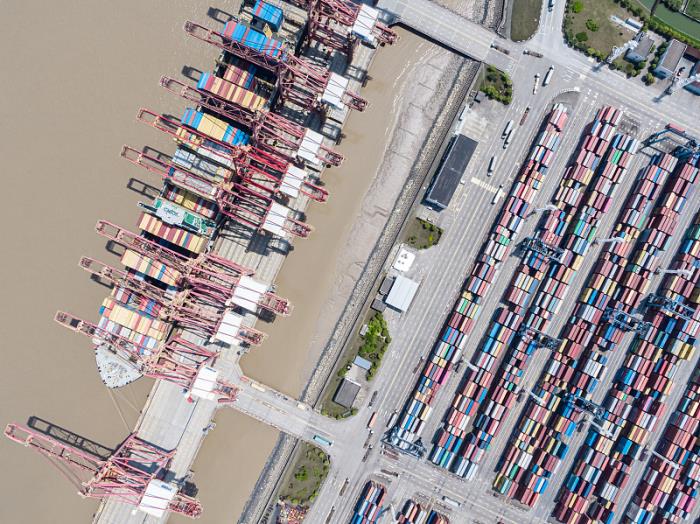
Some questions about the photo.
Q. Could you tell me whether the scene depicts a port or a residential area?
port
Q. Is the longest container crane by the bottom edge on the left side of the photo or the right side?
left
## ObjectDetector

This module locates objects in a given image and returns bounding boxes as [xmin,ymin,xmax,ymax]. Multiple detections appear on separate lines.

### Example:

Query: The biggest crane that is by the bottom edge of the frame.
[5,418,197,518]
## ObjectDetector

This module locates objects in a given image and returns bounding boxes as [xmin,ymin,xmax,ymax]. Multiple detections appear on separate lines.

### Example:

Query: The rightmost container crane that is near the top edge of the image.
[282,0,404,65]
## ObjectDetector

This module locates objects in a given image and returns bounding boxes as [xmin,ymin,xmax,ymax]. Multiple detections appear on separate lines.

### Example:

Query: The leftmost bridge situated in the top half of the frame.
[362,0,511,70]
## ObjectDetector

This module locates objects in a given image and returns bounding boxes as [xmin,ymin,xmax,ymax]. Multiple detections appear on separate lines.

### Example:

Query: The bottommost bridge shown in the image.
[216,378,318,441]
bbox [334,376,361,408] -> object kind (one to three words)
building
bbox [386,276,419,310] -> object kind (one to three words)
shed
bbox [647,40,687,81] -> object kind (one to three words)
building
